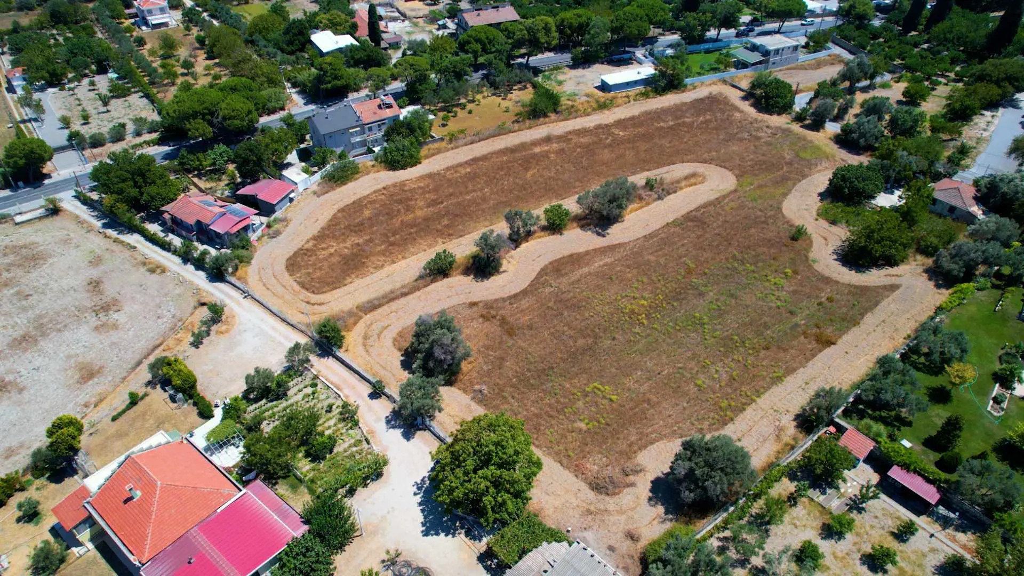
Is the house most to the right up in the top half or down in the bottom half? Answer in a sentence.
The house most to the right sits in the top half of the picture.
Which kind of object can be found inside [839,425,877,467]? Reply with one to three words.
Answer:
shed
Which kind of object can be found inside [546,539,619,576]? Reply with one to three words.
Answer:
barn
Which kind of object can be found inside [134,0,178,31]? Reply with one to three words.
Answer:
house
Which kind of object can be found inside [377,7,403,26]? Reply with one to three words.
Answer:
building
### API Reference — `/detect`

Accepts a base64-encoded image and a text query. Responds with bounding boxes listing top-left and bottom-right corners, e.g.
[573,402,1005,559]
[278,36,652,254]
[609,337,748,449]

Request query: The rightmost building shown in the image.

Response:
[931,177,986,222]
